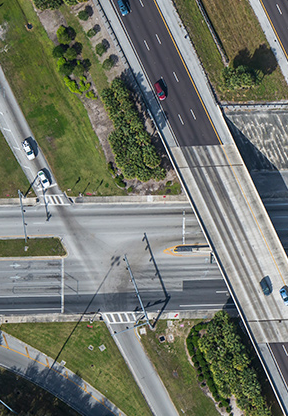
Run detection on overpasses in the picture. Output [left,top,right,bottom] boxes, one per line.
[140,101,288,378]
